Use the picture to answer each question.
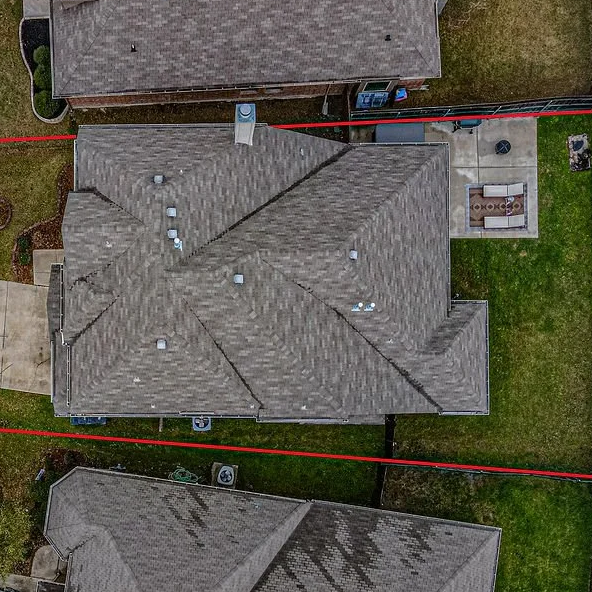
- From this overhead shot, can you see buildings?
Yes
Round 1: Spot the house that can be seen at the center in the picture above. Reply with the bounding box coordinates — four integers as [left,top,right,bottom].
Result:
[47,102,491,425]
